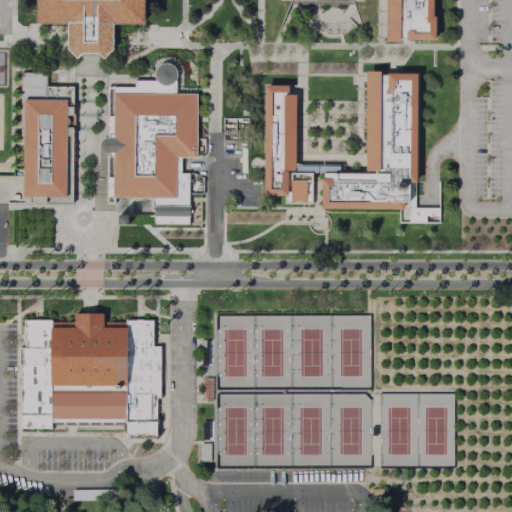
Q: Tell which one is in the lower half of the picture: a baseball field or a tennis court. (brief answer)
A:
tennis court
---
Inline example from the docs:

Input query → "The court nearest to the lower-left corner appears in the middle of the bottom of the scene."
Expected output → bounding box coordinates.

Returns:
[226,408,247,455]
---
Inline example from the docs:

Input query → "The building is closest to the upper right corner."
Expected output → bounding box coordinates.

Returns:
[388,0,438,42]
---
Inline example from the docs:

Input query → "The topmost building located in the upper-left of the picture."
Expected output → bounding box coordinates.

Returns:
[36,0,145,58]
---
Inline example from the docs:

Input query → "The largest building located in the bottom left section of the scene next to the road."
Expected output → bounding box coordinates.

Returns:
[21,313,162,436]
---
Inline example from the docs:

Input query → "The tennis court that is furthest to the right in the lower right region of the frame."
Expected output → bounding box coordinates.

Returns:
[424,408,449,454]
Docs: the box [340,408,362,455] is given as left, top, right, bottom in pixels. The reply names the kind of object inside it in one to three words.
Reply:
tennis court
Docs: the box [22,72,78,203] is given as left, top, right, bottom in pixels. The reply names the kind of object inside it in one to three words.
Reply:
building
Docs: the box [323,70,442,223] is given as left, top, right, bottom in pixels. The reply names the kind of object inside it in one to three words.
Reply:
building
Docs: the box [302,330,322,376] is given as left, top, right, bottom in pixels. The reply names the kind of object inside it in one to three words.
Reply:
tennis court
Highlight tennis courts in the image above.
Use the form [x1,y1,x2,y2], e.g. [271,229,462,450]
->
[262,330,284,376]
[226,408,247,455]
[340,408,362,455]
[302,330,322,376]
[341,330,362,376]
[262,408,284,455]
[388,408,412,454]
[226,330,246,376]
[424,408,449,454]
[301,408,322,455]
